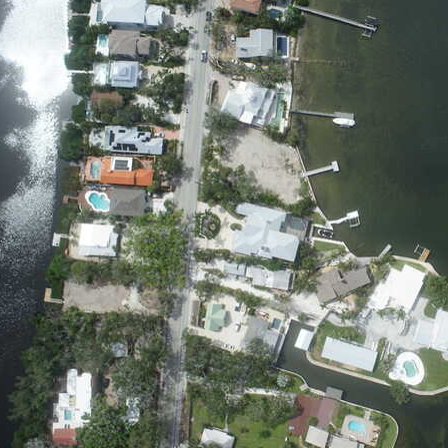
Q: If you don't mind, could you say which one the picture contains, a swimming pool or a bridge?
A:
swimming pool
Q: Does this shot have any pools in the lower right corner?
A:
Yes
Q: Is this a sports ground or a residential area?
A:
residential area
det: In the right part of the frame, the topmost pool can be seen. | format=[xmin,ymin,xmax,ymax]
[265,6,287,21]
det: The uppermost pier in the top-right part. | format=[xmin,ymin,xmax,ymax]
[298,6,378,32]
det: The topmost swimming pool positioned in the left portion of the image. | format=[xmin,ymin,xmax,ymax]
[90,0,105,25]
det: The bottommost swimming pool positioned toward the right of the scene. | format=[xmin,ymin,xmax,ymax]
[341,415,381,447]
